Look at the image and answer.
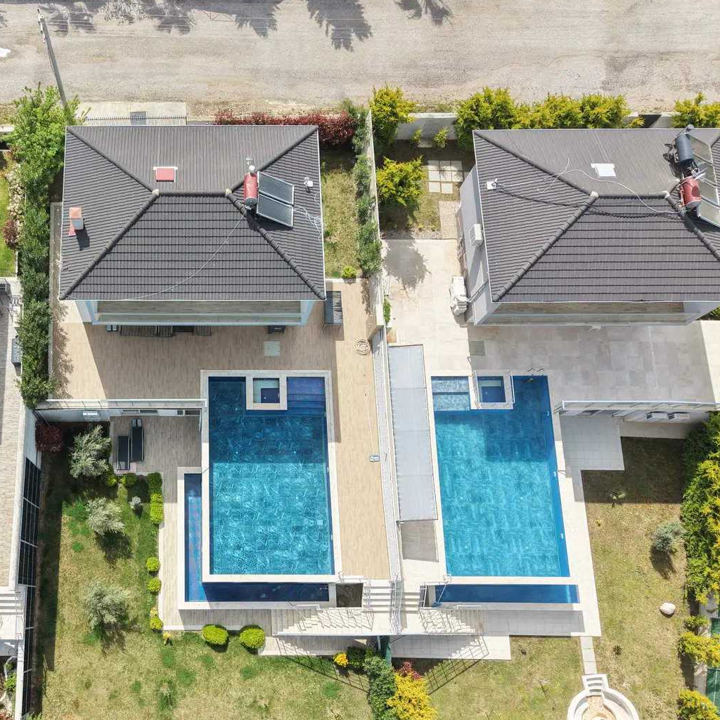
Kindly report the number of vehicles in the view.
0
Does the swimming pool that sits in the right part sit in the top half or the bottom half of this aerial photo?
bottom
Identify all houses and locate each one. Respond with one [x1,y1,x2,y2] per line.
[460,127,720,325]
[57,124,327,325]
